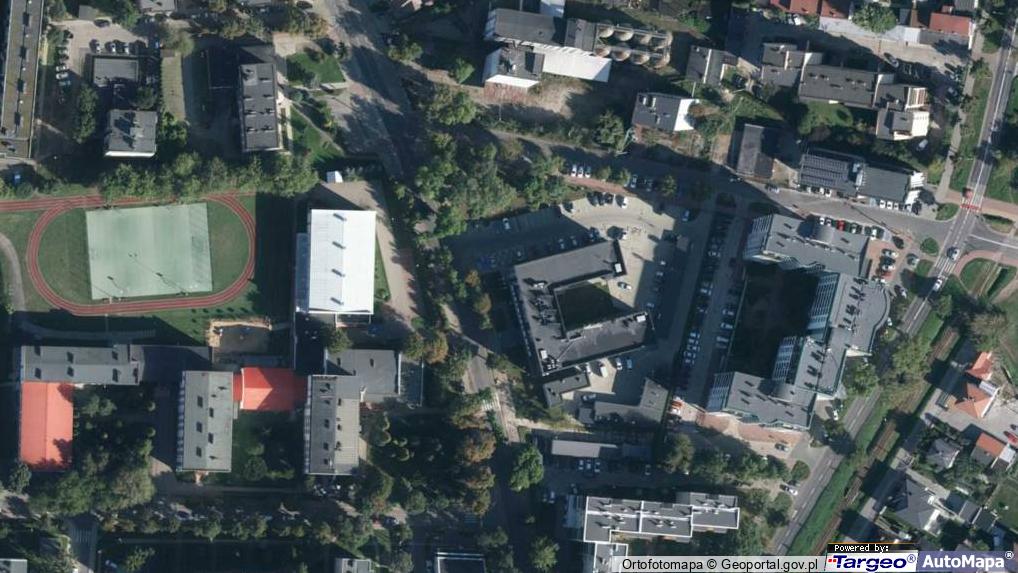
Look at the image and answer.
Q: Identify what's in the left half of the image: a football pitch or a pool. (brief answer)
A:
football pitch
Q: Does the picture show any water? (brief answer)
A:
No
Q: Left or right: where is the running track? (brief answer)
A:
left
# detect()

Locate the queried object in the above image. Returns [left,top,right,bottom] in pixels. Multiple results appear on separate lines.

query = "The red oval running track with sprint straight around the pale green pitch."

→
[0,190,257,315]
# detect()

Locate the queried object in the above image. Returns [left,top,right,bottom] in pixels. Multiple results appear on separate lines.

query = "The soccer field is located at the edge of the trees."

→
[86,203,213,299]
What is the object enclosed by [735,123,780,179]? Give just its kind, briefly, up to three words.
shed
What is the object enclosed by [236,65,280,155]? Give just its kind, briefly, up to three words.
building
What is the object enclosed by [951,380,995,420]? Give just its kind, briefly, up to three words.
house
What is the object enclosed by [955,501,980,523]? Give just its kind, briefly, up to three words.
building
